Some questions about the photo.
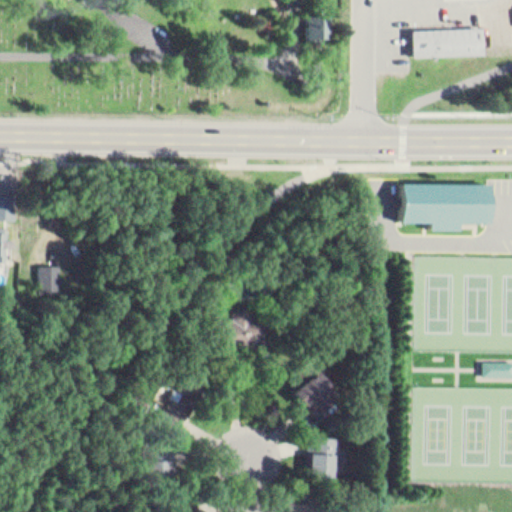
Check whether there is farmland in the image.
No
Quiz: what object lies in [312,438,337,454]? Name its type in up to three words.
building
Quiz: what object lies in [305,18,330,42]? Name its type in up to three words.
house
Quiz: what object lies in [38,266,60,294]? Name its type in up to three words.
house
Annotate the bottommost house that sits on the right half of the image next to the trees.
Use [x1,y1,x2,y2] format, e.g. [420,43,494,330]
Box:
[312,454,337,480]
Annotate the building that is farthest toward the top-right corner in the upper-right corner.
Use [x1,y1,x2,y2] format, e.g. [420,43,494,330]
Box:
[410,29,486,60]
